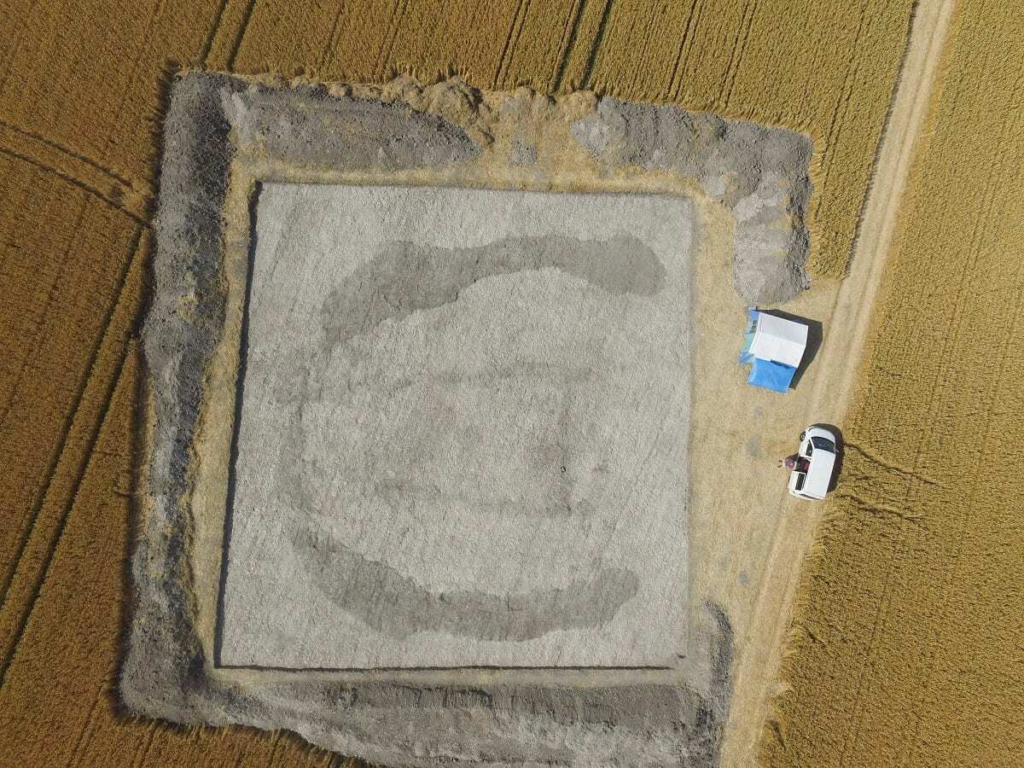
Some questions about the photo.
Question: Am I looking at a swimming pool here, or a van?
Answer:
van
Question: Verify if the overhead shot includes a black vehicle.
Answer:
No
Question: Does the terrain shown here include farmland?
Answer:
Yes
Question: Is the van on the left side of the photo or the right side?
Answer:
right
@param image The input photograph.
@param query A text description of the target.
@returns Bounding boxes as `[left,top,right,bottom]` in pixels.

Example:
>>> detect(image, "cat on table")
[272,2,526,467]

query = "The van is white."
[789,423,837,502]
